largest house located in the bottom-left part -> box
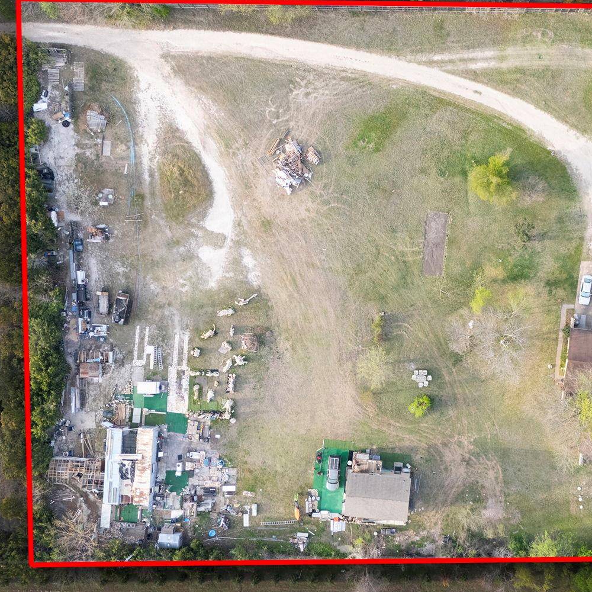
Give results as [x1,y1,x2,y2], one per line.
[101,426,159,528]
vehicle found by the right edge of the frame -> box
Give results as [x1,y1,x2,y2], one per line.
[578,275,592,305]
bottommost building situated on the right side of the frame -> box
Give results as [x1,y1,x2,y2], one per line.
[342,469,411,525]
